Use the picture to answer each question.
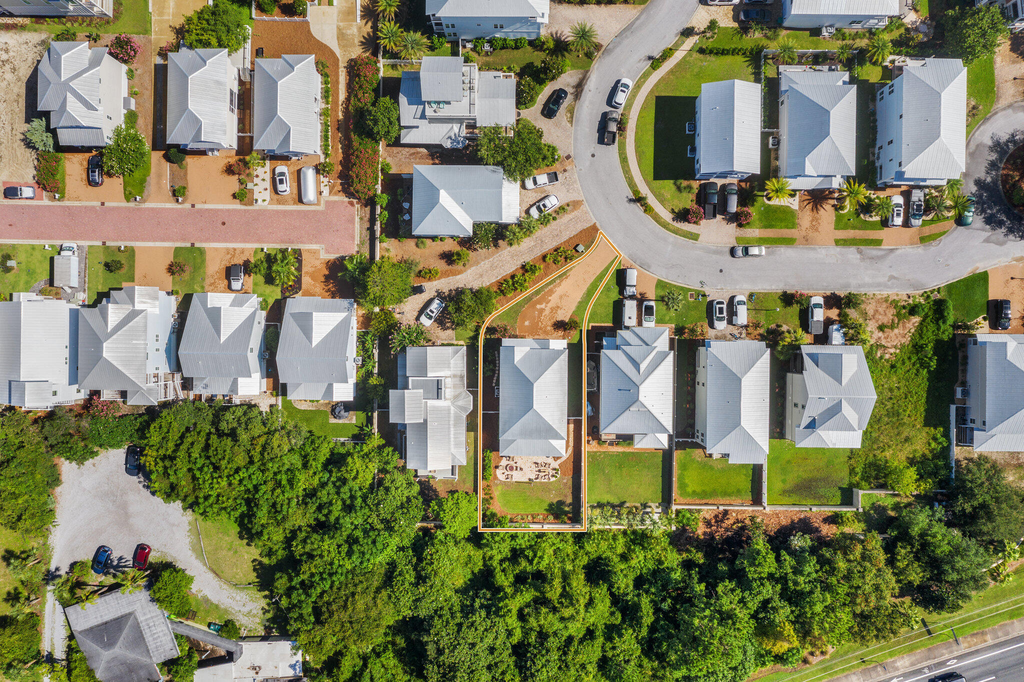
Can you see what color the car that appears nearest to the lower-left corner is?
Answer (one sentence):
The car that appears nearest to the lower-left corner is blue.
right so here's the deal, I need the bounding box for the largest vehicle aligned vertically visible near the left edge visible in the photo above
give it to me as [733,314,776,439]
[50,234,78,298]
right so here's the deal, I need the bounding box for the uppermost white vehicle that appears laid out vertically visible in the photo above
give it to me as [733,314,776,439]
[613,76,632,110]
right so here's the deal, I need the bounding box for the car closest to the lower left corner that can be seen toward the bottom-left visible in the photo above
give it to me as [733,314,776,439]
[92,544,114,575]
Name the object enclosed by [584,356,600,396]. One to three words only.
boat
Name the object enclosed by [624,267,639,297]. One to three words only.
car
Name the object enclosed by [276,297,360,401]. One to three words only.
house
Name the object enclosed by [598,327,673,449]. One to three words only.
house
